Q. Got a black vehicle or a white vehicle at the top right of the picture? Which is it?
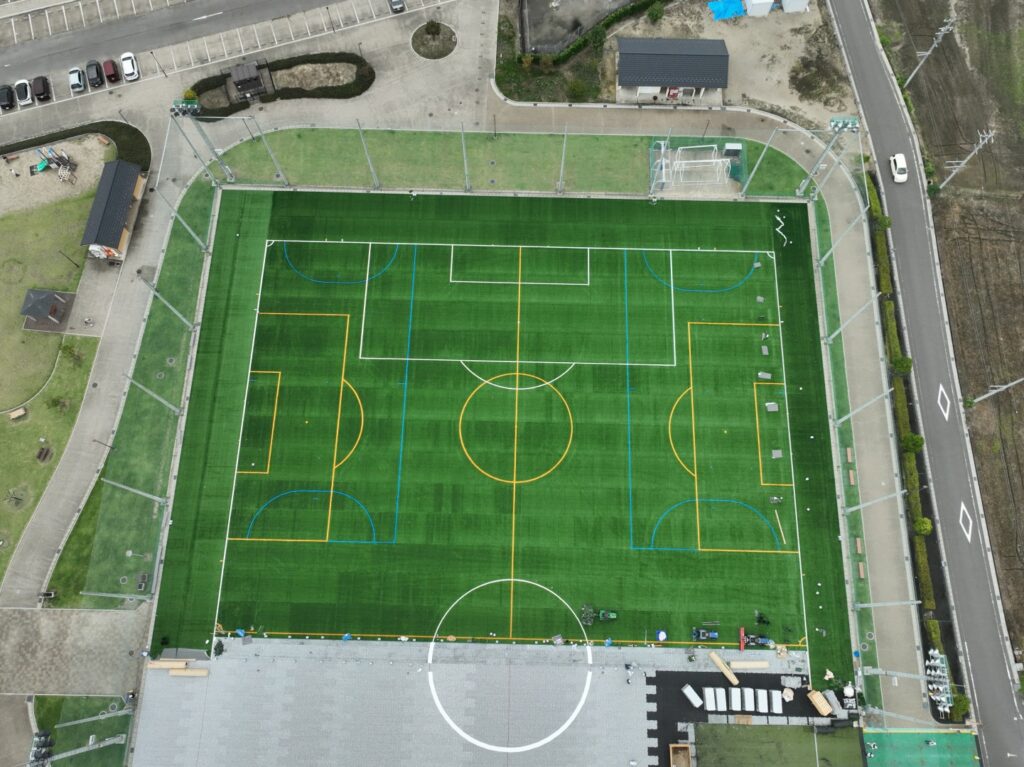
white vehicle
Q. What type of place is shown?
sports ground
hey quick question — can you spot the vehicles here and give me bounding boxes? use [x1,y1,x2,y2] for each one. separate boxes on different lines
[15,81,34,108]
[86,61,105,89]
[691,625,722,642]
[103,61,120,84]
[888,154,908,184]
[581,603,622,624]
[32,77,51,103]
[0,84,16,113]
[740,624,774,651]
[121,53,140,82]
[68,68,86,94]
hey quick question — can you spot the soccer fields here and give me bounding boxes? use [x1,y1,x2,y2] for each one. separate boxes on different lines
[132,190,858,767]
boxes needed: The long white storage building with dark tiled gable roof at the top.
[615,36,730,105]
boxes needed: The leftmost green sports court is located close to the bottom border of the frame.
[695,724,866,767]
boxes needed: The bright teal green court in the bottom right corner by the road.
[862,720,988,767]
